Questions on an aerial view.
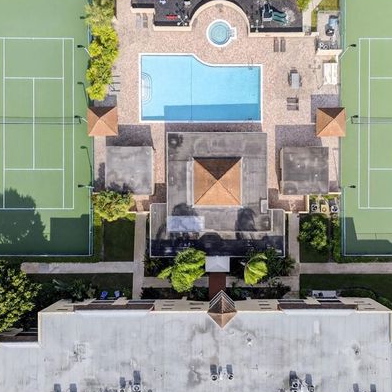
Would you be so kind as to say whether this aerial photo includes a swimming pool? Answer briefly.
Yes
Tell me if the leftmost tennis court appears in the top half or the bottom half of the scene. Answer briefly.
top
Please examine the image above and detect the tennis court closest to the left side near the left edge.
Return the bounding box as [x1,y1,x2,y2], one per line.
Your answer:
[0,0,94,255]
